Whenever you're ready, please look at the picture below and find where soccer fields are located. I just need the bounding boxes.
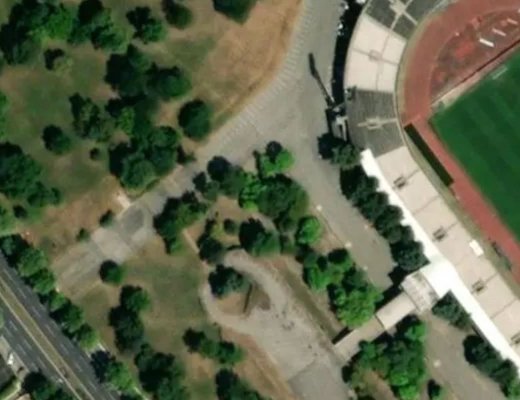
[429,38,520,236]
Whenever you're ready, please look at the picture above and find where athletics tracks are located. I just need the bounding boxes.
[403,0,520,283]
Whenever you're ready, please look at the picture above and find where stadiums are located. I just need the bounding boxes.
[336,0,520,387]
